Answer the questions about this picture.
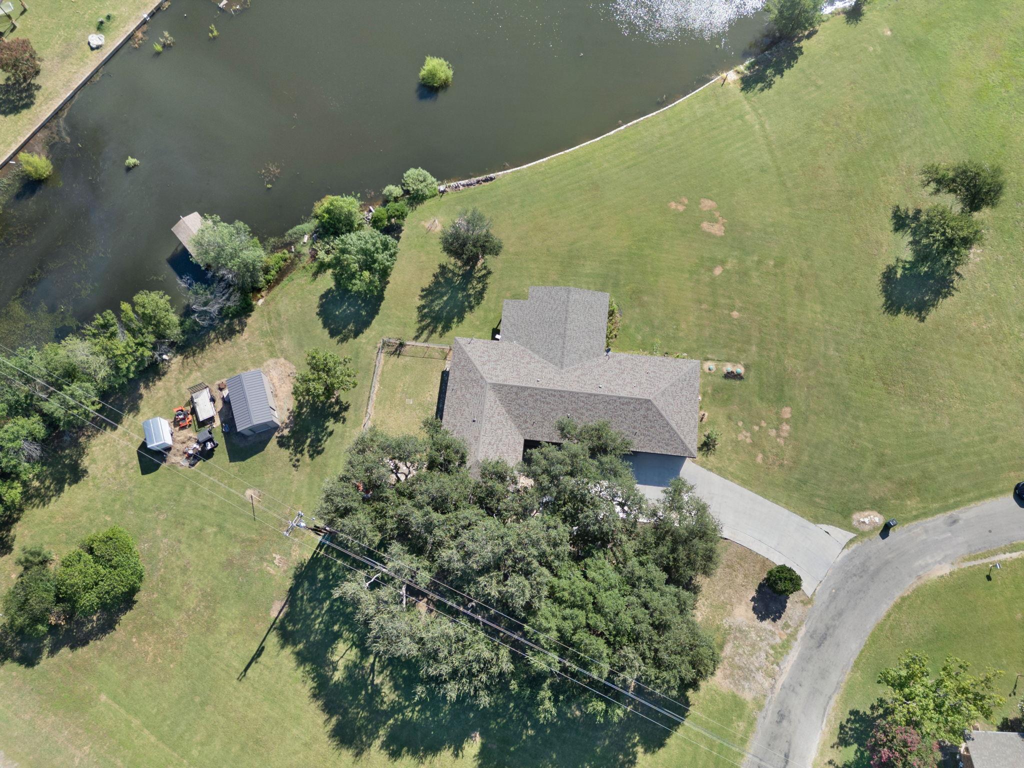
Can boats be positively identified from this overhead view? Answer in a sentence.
No, the scene contains no boat.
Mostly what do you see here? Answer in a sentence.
The scene is dominated by grass.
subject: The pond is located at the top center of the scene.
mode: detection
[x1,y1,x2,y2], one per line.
[0,0,858,364]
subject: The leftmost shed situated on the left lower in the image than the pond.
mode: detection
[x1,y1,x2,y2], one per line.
[140,415,172,451]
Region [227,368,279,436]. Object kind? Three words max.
shed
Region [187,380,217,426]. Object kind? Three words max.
trailer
